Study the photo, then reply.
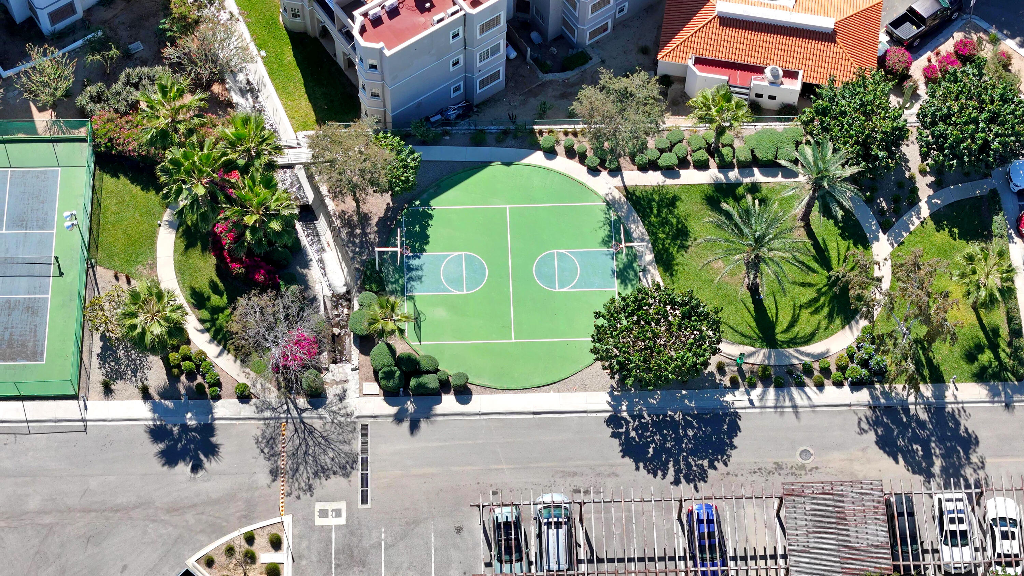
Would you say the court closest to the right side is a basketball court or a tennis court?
basketball court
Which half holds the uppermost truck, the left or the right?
right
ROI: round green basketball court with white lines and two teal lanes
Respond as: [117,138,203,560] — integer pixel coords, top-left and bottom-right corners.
[380,162,641,390]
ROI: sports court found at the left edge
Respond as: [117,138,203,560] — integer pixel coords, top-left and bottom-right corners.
[0,135,93,399]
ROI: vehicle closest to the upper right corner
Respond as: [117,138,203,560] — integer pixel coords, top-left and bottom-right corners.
[884,0,966,47]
